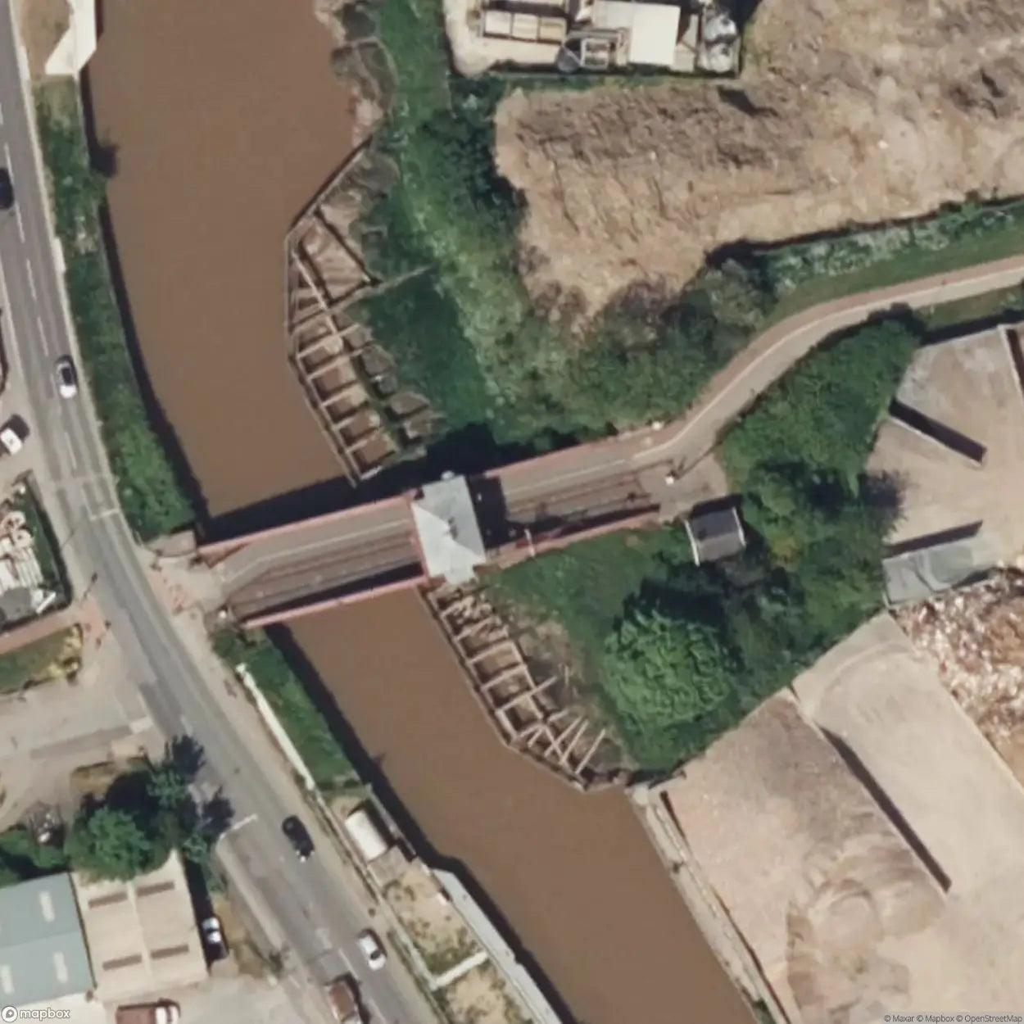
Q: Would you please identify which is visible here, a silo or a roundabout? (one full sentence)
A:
I can see a silo in this picture.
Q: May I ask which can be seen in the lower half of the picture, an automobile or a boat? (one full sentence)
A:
There is an automobile in the lower half of the picture.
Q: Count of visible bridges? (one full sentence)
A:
I count just 1 bridge.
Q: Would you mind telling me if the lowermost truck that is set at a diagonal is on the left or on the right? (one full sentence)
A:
The lowermost truck that is set at a diagonal is on the left side of the image.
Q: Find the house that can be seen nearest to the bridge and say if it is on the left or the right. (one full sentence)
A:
You can find the house that can be seen nearest to the bridge on the right side of the picture.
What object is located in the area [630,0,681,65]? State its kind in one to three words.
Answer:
shed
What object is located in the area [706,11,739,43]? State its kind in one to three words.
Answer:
silo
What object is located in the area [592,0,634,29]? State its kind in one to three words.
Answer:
building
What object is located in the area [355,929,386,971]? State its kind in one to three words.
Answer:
car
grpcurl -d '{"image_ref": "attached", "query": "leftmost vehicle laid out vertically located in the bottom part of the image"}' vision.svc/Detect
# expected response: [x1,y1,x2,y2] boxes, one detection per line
[203,917,224,959]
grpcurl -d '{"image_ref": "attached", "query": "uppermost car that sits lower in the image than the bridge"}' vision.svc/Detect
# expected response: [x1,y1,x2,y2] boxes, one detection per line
[281,816,315,860]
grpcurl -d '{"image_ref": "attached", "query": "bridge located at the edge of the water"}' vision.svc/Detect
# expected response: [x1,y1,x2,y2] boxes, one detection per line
[200,427,660,626]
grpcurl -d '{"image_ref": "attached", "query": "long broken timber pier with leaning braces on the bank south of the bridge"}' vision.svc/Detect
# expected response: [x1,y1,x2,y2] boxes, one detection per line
[417,582,626,793]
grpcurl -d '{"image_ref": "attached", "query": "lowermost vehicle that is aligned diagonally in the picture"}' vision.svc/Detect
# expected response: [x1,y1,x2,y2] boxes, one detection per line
[326,978,369,1024]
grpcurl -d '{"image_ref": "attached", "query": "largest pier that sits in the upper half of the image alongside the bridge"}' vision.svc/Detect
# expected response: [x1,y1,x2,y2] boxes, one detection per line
[285,134,444,489]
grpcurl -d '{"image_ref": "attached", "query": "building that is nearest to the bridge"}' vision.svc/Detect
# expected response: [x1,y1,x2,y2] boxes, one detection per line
[686,506,749,564]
